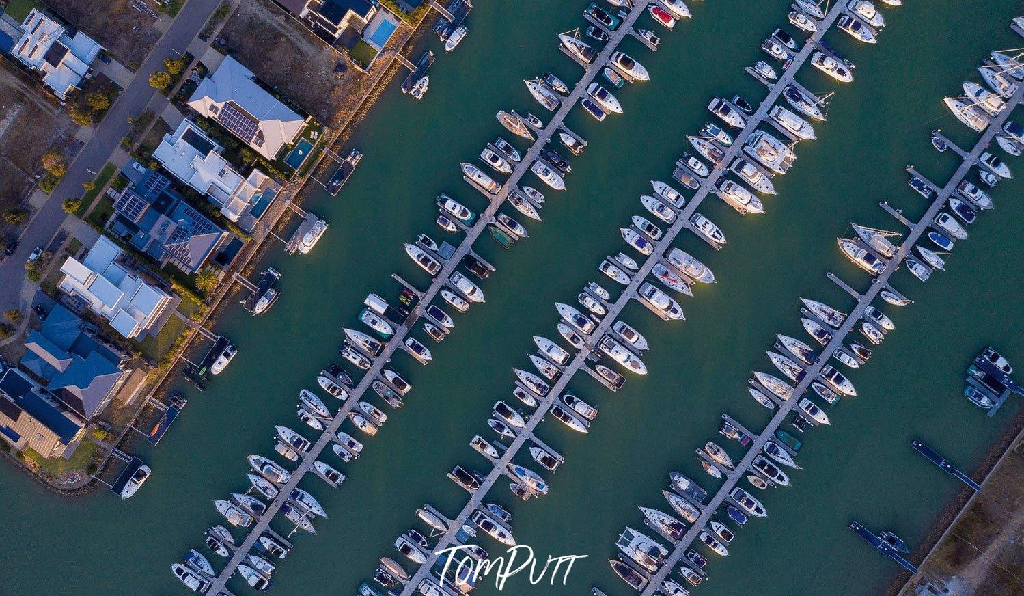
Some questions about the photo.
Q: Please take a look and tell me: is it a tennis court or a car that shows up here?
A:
car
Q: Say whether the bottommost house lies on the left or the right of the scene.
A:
left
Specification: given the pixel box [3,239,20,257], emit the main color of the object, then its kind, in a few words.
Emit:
black car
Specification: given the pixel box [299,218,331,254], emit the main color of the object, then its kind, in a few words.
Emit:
white boat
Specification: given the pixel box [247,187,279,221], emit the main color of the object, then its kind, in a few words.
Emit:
blue swimming pool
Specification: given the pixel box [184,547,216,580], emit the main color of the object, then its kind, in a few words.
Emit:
blue boat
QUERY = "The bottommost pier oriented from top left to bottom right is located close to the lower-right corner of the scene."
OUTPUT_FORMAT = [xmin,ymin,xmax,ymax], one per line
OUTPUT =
[850,521,923,578]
